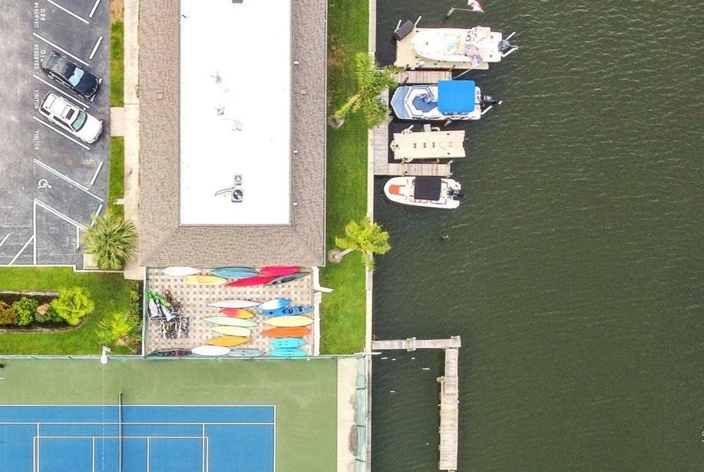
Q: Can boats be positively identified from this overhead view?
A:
Yes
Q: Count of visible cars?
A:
2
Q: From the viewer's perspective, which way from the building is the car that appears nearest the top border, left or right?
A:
left of it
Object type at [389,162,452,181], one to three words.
pier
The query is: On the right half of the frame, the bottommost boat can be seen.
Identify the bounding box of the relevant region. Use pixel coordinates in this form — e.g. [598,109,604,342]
[383,175,469,208]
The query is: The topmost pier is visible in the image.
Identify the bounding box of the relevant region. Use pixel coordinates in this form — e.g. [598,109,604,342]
[391,16,517,72]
